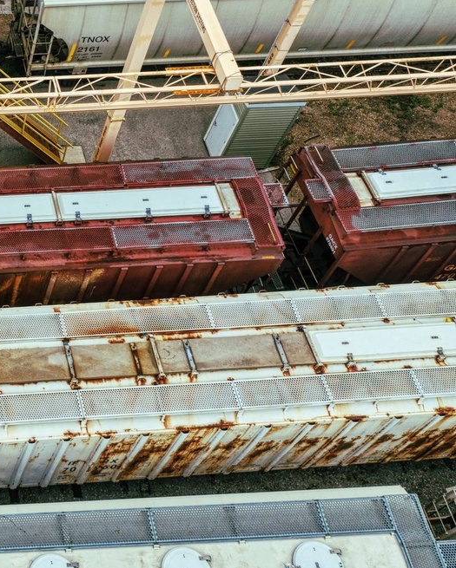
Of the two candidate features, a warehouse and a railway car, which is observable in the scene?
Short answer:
railway car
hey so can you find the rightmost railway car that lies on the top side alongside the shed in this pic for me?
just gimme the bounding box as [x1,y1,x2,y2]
[270,129,456,286]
